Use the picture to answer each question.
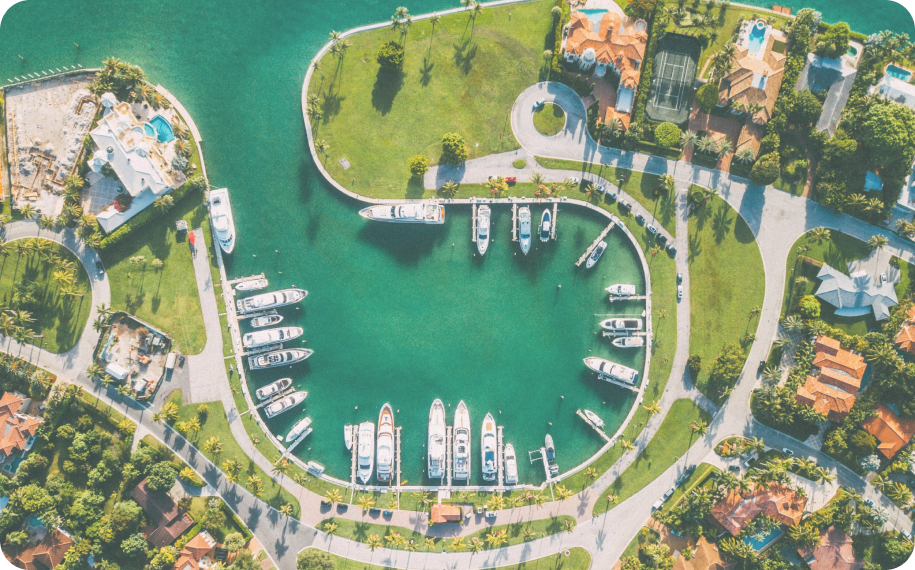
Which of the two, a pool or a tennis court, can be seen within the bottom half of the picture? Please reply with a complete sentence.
The feature located within the bottom half of the picture is a pool.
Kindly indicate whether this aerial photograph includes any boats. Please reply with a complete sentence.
Yes, there's a boat down there.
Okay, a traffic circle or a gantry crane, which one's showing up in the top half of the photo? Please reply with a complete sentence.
The one visible in the top half of the photo is a traffic circle.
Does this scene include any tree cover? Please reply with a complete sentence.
Yes, tree cover can be seen from above here.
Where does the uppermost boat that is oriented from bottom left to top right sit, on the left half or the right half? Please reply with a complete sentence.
The uppermost boat that is oriented from bottom left to top right appears in the right half of the scene.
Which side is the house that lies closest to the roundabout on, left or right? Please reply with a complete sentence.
The house that lies closest to the roundabout sits on the right side.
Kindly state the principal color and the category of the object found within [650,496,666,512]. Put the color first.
white vehicle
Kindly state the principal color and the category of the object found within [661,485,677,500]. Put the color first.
white vehicle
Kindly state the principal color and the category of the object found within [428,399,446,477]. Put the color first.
white boat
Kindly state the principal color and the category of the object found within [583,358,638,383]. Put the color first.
white boat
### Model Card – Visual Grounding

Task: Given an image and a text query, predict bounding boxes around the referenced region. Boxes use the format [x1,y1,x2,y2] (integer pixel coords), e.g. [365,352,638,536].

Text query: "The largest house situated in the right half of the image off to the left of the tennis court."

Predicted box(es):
[563,10,650,127]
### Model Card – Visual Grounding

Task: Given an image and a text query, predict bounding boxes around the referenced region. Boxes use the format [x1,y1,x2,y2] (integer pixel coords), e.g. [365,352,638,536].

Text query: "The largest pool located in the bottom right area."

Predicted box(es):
[743,524,785,550]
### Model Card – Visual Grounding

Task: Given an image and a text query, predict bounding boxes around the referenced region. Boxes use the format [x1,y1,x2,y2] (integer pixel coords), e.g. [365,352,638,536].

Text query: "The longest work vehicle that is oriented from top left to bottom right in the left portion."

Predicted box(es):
[130,348,151,365]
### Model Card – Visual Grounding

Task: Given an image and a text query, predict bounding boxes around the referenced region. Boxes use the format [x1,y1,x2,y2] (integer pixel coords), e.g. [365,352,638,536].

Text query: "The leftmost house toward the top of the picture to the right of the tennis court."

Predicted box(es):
[703,31,786,162]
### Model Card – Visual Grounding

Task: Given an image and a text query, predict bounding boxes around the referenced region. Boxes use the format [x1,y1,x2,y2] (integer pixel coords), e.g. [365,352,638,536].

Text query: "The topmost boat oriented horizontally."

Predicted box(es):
[359,204,446,222]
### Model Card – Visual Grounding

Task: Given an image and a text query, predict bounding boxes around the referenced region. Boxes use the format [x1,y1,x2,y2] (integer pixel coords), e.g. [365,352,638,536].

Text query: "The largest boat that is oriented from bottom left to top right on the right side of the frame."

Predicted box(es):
[587,241,608,267]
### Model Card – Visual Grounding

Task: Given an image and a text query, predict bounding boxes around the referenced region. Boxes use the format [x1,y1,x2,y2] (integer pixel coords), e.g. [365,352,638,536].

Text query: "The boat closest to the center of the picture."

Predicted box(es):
[477,205,491,255]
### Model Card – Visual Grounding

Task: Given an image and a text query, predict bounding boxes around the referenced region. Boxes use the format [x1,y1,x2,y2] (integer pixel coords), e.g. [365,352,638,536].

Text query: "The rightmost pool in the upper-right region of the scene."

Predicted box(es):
[885,63,914,80]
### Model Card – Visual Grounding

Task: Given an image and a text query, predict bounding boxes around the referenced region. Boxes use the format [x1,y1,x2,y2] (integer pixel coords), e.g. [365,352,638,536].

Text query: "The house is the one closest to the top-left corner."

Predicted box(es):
[87,100,179,231]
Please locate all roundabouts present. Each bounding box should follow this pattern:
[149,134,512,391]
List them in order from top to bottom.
[512,83,587,139]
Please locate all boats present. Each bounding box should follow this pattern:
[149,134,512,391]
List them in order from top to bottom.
[209,189,235,253]
[359,204,446,222]
[477,205,491,255]
[518,207,531,255]
[539,209,550,242]
[587,241,608,267]
[236,278,269,290]
[605,284,635,295]
[237,289,307,313]
[252,314,283,327]
[600,318,642,330]
[245,327,303,347]
[613,337,643,348]
[249,348,313,371]
[583,358,638,383]
[257,378,291,398]
[265,391,306,418]
[428,399,446,477]
[453,401,471,479]
[378,403,394,481]
[585,410,605,427]
[482,413,497,480]
[286,415,313,440]
[358,421,374,483]
[344,423,353,449]
[545,434,556,462]
[504,443,517,483]
[306,461,324,474]
[550,464,559,473]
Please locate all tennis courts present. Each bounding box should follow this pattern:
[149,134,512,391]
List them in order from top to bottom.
[646,29,708,122]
